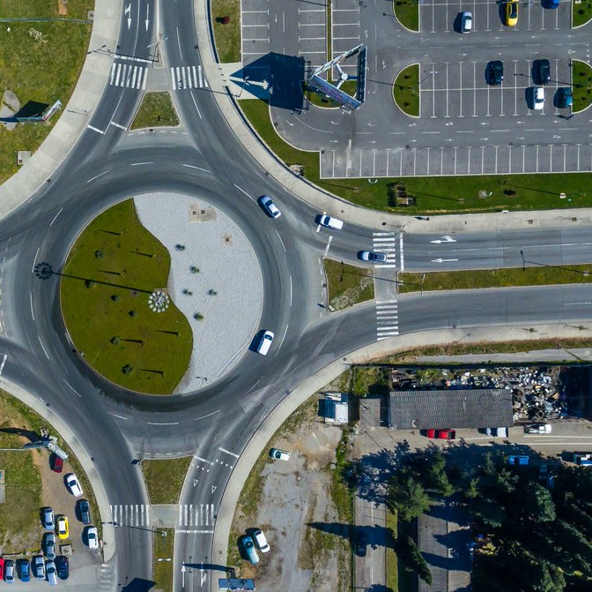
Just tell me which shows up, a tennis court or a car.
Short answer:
car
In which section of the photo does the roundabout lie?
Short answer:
left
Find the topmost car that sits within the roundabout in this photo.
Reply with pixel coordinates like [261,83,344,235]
[258,195,282,220]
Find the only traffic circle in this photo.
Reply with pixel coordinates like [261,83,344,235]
[0,129,323,453]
